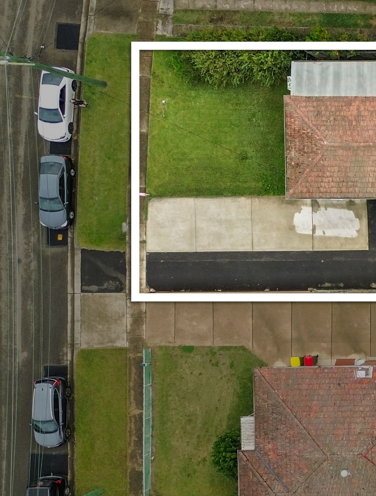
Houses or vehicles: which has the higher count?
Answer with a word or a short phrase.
vehicles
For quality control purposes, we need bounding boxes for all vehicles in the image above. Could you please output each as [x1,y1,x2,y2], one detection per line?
[29,376,73,447]
[34,153,79,231]
[34,65,80,143]
[25,476,72,496]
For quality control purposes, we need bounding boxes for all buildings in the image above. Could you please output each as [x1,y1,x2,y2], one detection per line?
[284,94,376,201]
[235,365,376,496]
